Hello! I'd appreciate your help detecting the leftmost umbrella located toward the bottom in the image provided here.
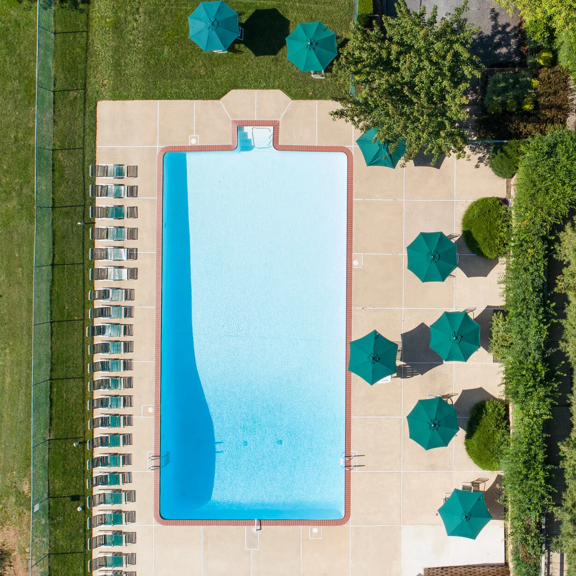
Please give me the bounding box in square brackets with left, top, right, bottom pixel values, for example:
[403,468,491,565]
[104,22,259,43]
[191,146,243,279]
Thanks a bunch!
[350,329,398,384]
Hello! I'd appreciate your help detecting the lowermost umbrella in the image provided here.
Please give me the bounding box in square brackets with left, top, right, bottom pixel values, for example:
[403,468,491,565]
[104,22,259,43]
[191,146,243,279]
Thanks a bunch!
[437,486,492,539]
